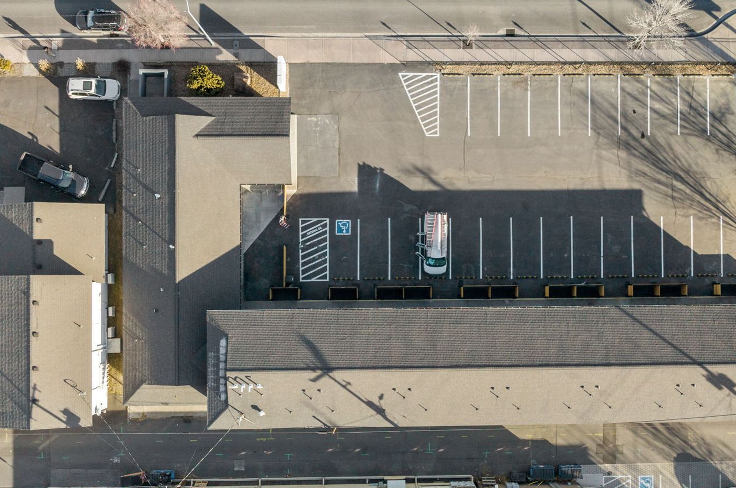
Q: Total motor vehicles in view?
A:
4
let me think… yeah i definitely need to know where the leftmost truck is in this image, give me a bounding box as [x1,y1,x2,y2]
[18,151,89,196]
